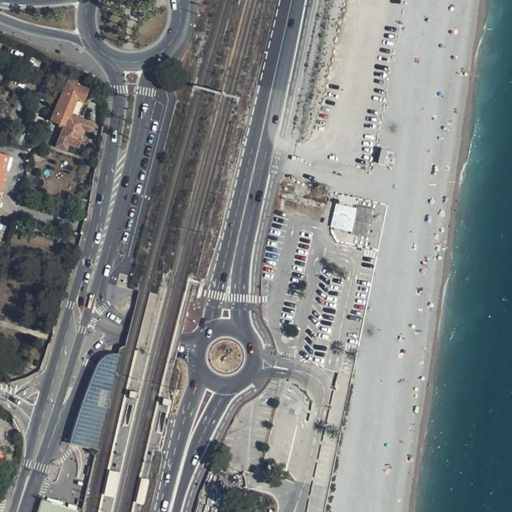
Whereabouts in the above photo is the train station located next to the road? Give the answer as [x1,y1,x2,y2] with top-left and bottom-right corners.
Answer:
[70,270,204,512]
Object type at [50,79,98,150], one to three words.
house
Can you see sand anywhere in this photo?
Yes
